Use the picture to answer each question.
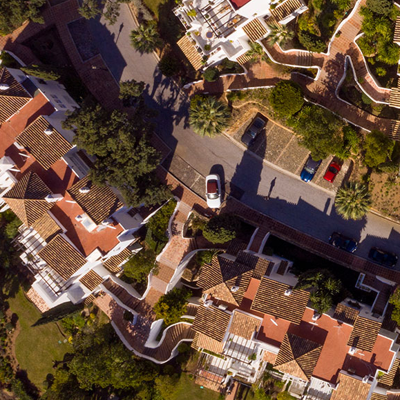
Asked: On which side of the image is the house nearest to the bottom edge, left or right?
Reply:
right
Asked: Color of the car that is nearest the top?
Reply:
black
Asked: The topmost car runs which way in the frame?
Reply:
on a diagonal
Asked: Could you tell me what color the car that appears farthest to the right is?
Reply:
black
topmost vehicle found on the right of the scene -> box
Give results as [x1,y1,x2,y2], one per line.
[240,113,268,147]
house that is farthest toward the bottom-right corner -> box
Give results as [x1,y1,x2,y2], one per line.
[190,239,400,400]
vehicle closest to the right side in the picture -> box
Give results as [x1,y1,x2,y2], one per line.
[365,244,400,267]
